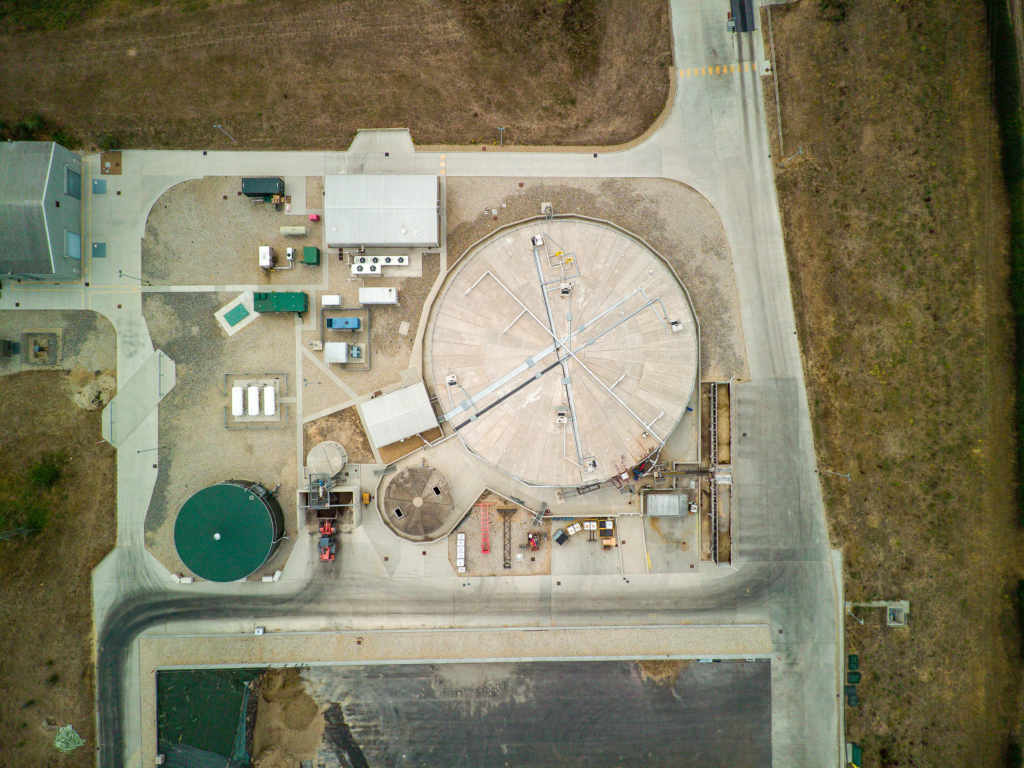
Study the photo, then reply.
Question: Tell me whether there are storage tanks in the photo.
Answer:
Yes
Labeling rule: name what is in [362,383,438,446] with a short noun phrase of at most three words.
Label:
shed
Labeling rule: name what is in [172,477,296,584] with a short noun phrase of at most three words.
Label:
storage tank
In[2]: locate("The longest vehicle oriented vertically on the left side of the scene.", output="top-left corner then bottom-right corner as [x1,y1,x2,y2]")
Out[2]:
[314,507,337,563]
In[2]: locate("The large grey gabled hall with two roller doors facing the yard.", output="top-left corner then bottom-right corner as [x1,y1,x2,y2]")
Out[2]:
[0,140,83,279]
